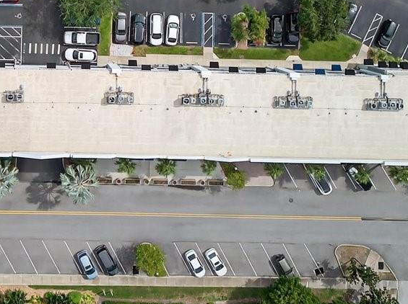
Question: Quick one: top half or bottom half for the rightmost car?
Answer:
top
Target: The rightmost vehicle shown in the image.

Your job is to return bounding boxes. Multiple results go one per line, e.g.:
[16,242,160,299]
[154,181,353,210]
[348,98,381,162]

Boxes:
[374,18,397,50]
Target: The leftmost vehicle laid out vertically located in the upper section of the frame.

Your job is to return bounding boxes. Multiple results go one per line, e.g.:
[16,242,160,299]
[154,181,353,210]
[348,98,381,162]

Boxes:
[114,12,128,43]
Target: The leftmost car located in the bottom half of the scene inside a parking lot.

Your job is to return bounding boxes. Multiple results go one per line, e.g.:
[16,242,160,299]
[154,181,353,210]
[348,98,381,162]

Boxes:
[76,248,98,279]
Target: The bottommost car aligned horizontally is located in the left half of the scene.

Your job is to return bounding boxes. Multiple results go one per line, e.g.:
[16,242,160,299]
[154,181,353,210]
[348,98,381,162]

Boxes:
[64,48,96,62]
